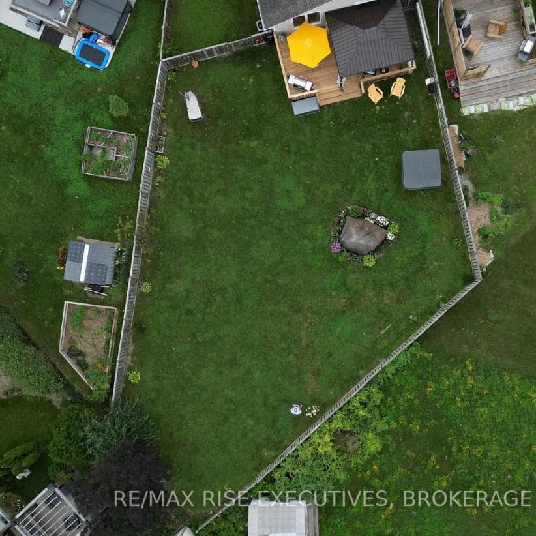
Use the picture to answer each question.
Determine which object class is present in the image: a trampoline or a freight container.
trampoline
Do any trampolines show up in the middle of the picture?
No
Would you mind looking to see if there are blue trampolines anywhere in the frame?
Yes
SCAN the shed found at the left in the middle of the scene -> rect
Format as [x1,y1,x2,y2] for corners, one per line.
[64,242,123,285]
